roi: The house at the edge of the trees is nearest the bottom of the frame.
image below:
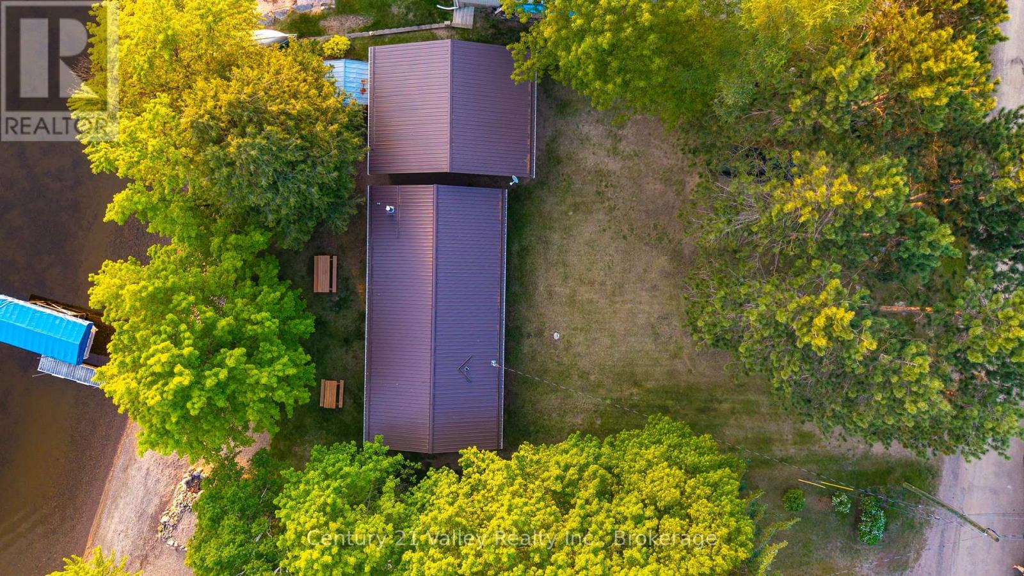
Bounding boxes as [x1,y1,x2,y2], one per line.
[361,184,509,452]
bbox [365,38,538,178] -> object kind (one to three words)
building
